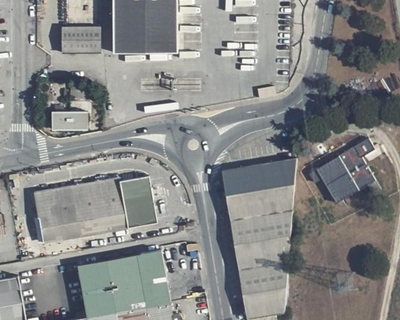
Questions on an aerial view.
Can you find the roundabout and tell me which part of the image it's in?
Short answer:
center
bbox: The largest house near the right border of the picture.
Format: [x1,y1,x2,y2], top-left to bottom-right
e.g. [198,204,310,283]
[316,136,380,203]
